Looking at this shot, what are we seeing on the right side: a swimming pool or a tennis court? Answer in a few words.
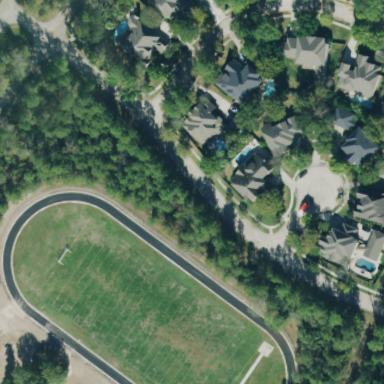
swimming pool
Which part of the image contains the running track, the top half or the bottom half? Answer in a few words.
bottom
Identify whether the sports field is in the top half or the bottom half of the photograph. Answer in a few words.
bottom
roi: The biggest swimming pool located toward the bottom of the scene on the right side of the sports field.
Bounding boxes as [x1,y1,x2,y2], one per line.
[350,256,382,278]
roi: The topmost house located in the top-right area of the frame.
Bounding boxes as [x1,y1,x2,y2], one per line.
[284,36,332,70]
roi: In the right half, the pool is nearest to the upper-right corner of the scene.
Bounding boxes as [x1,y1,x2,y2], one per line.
[348,93,375,109]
